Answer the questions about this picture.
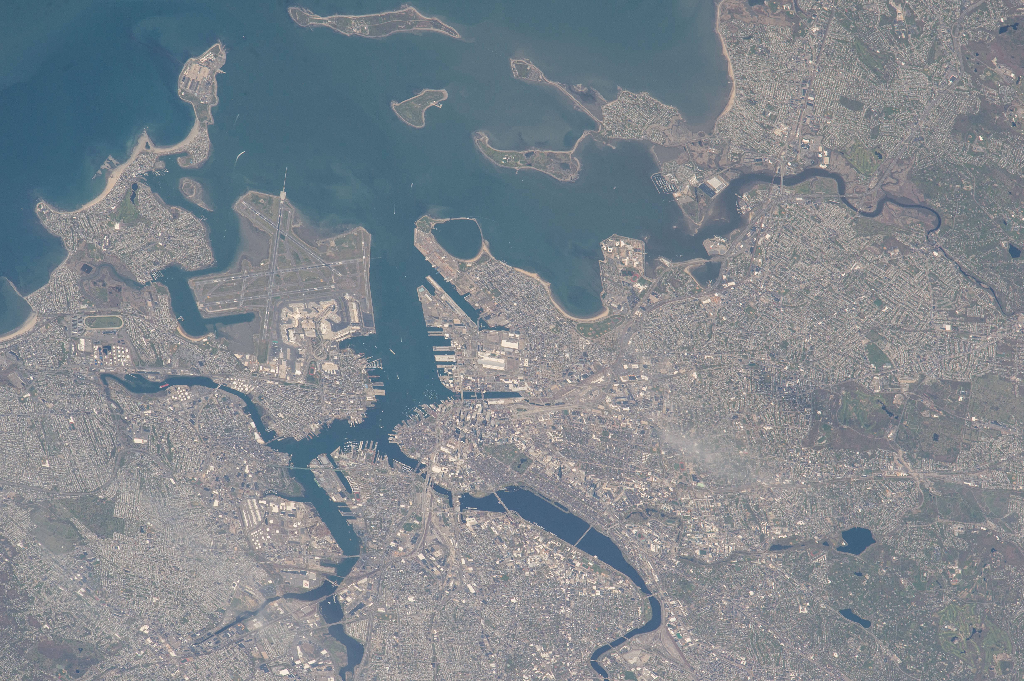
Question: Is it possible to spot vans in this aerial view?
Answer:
No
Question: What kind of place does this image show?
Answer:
port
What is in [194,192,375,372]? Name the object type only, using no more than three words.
airport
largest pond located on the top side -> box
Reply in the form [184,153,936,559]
[431,219,483,259]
